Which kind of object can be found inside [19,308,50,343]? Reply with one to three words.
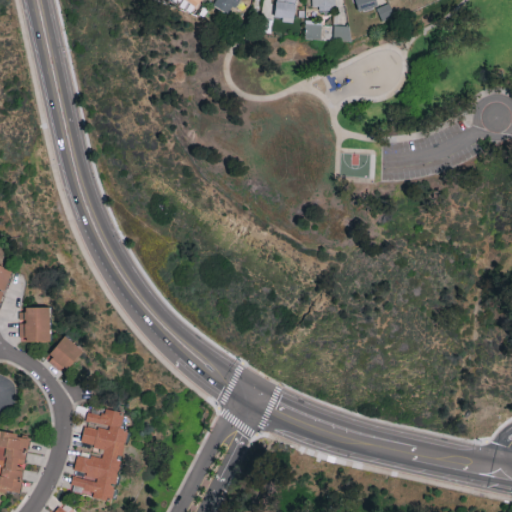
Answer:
house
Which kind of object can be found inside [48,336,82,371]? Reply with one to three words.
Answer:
house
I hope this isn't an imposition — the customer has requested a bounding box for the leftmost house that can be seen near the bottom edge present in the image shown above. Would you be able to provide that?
[0,432,30,498]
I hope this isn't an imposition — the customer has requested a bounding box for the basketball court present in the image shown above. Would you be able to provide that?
[340,153,375,180]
